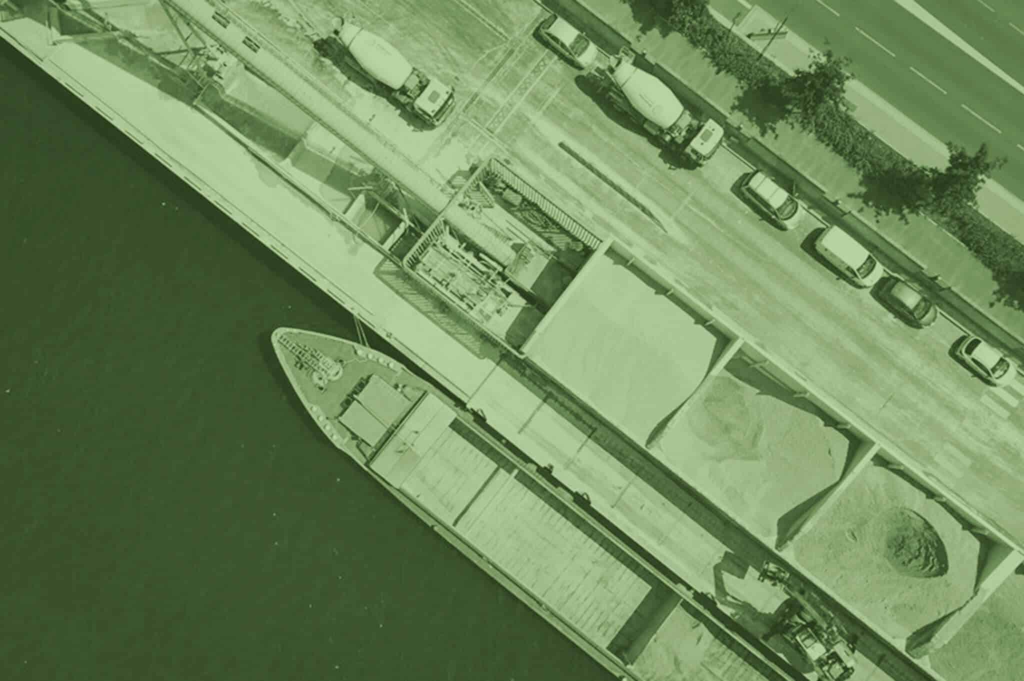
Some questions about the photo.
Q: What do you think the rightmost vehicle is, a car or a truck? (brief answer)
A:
car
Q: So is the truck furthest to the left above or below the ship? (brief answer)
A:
above it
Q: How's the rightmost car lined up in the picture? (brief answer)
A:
on a diagonal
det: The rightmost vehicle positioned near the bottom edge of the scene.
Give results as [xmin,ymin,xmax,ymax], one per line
[755,553,874,681]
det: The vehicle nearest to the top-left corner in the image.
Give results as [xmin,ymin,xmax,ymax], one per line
[327,11,464,132]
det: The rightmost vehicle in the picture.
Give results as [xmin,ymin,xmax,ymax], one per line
[953,335,1015,388]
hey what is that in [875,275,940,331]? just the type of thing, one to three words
car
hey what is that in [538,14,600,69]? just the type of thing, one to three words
car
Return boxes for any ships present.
[271,327,792,681]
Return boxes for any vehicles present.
[327,11,464,132]
[600,46,735,171]
[538,14,600,69]
[755,553,874,681]
[953,335,1015,388]
[813,226,884,287]
[741,171,806,231]
[875,275,940,331]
